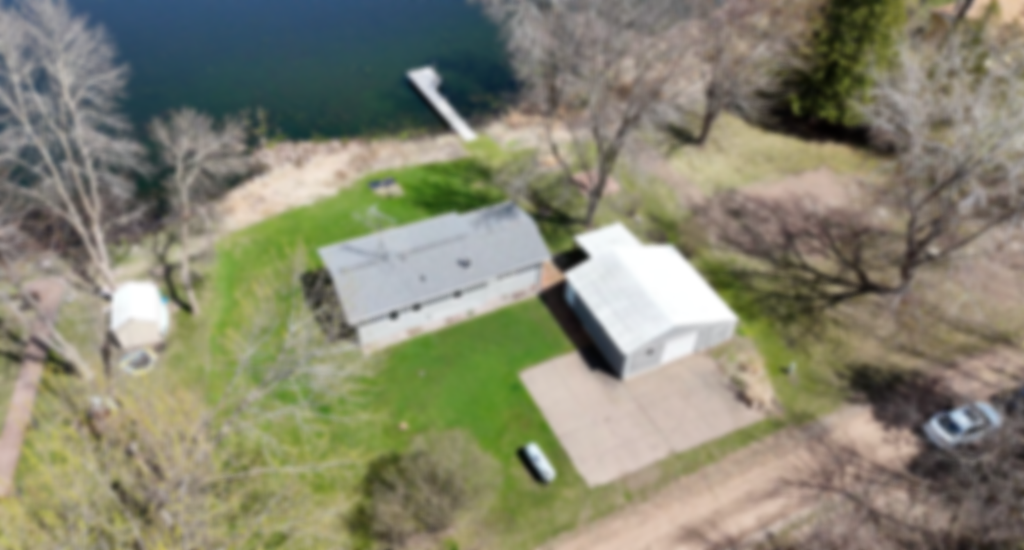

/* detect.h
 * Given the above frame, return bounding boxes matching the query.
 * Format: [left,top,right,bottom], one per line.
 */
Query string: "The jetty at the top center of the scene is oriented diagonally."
[412,66,476,142]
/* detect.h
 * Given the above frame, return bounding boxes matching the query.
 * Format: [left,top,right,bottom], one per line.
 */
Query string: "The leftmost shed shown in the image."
[110,281,167,349]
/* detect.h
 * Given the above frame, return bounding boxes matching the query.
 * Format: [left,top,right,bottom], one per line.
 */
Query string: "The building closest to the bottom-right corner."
[563,222,741,380]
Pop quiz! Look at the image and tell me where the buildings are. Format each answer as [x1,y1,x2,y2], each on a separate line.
[315,197,556,353]
[563,222,741,380]
[110,281,167,349]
